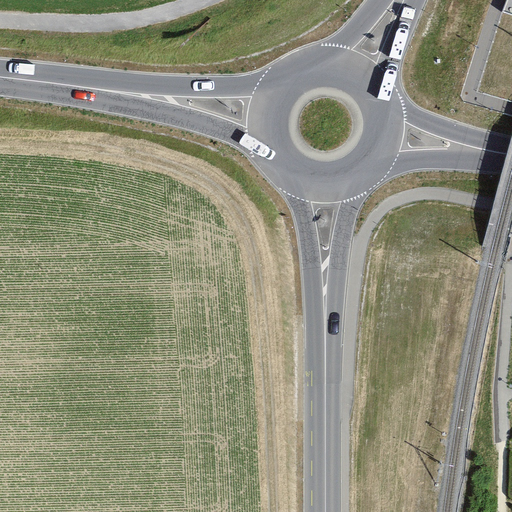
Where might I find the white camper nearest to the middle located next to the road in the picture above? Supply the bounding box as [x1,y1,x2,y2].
[240,133,276,160]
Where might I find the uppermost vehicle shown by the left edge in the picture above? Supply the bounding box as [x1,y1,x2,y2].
[8,62,36,74]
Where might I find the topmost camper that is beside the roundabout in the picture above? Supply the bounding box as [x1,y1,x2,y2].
[390,20,410,60]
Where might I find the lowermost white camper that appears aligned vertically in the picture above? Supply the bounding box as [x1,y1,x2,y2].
[378,62,399,101]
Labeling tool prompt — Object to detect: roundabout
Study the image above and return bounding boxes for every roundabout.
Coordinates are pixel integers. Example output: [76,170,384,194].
[246,44,406,202]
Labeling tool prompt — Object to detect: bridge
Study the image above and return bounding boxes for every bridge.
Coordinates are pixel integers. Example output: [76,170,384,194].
[482,130,512,248]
